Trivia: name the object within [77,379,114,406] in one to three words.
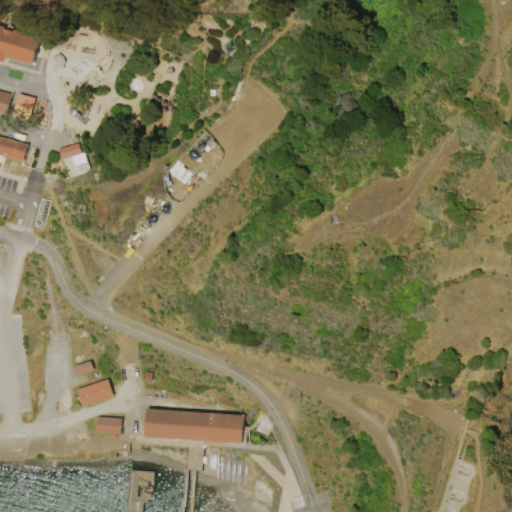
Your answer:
house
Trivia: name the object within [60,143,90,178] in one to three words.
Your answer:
house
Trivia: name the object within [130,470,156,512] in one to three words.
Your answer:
pier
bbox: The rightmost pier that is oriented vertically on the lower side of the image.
[182,446,204,512]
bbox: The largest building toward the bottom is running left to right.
[146,408,245,442]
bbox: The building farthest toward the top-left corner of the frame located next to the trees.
[0,28,38,64]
